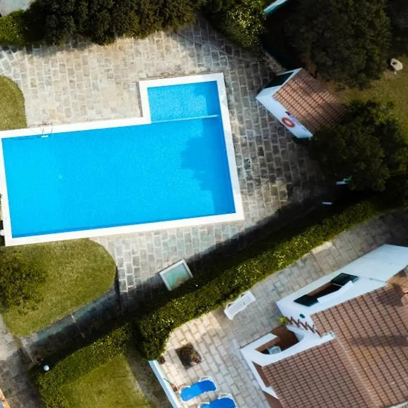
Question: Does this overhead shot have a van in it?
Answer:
No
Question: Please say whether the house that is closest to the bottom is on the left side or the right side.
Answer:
right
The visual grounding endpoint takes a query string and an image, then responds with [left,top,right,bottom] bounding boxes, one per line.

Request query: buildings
[255,69,347,135]
[239,243,408,408]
